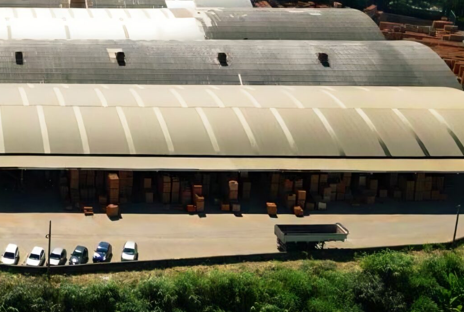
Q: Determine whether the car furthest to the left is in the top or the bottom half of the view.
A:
bottom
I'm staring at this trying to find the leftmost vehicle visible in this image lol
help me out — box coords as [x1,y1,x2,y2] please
[0,245,20,267]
